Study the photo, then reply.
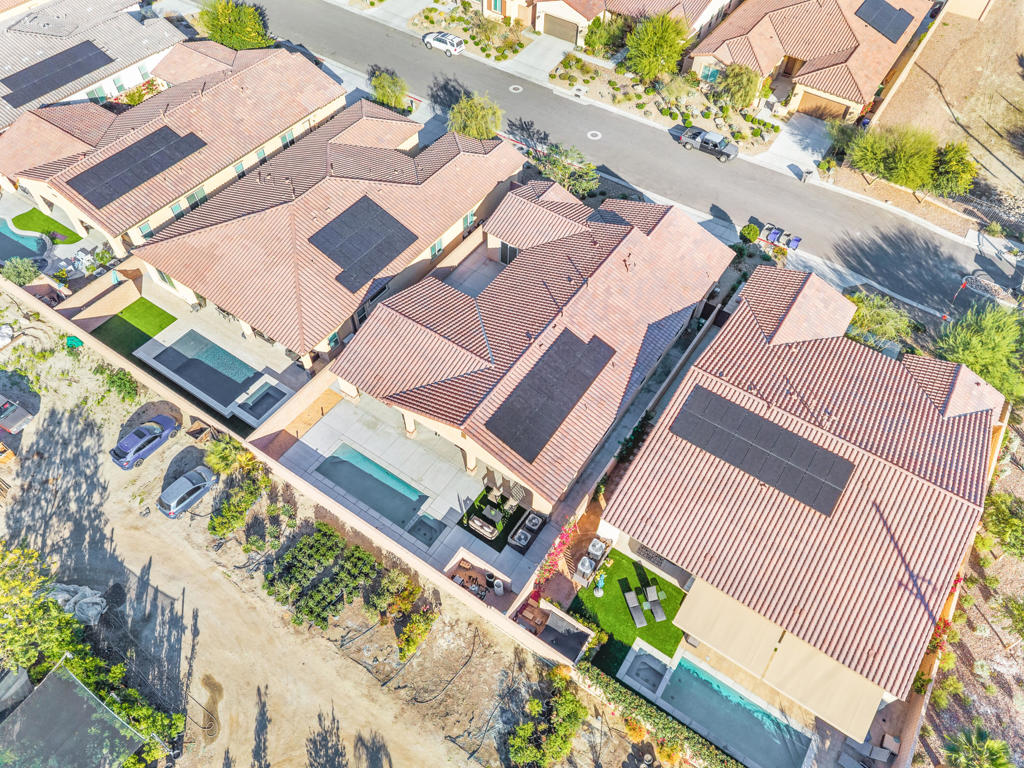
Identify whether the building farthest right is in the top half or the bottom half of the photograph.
top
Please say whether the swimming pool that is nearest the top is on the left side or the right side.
left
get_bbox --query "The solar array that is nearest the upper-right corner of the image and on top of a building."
[851,0,915,42]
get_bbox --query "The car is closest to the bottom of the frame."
[148,460,226,524]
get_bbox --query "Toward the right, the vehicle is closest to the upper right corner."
[677,123,744,162]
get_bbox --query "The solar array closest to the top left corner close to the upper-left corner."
[0,37,106,110]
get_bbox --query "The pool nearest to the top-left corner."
[0,213,53,265]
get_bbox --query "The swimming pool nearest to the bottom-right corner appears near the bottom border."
[655,646,822,768]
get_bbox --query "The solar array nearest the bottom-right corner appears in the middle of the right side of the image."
[668,380,862,519]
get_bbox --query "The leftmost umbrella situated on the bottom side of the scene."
[591,572,606,599]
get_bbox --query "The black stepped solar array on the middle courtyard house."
[478,325,619,461]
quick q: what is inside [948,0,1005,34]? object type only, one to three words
building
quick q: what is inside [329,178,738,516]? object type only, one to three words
house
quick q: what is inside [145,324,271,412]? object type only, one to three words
swimming pool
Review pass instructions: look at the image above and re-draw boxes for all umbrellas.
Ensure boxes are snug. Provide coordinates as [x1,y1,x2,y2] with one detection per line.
[591,572,606,599]
[107,273,118,289]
